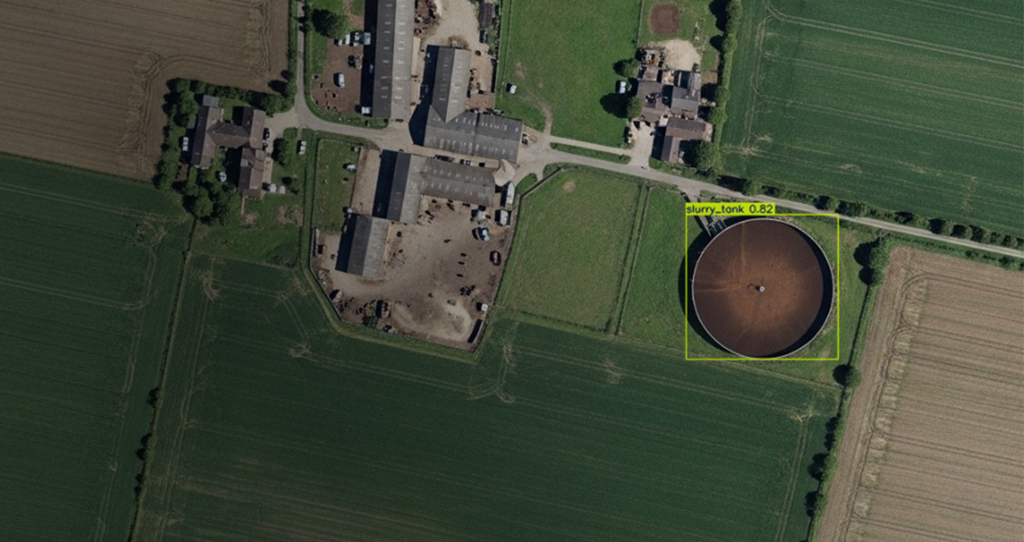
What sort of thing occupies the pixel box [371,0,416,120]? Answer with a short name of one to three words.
barn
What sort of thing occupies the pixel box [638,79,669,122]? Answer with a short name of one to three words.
house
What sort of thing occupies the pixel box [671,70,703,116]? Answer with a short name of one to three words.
house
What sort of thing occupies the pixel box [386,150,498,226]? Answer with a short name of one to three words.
barn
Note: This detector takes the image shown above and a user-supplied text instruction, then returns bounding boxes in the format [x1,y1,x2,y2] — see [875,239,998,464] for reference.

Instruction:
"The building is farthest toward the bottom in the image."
[346,213,390,280]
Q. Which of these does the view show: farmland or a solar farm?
farmland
